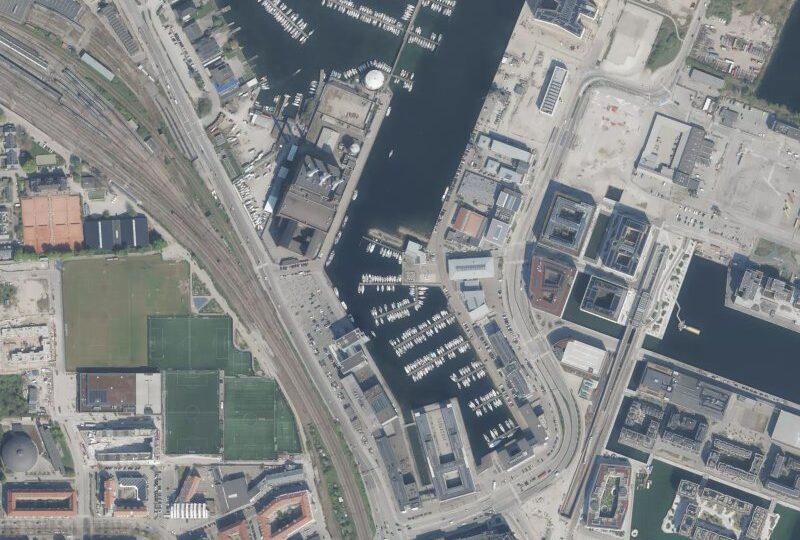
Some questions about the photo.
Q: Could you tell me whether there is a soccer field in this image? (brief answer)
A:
Yes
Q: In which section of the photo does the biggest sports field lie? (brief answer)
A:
left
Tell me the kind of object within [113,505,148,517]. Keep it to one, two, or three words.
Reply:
house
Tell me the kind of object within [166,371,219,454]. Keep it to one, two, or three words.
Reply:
soccer field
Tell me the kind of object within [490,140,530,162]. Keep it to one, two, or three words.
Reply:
building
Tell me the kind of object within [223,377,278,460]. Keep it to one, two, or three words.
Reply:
soccer field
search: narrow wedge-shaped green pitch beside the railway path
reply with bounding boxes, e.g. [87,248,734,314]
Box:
[273,377,300,452]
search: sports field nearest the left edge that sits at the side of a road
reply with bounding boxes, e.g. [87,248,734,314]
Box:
[63,253,189,371]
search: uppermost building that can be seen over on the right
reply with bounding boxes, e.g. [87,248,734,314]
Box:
[534,0,602,40]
